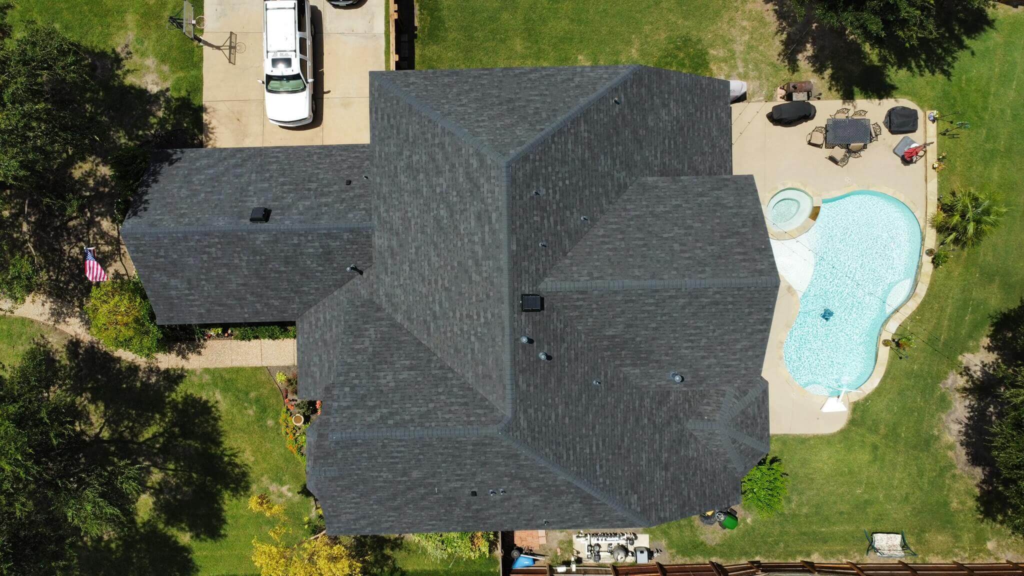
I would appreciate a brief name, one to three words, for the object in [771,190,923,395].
swimming pool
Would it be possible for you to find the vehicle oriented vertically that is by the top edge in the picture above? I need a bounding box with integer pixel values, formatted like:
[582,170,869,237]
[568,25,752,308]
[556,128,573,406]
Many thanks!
[259,0,317,127]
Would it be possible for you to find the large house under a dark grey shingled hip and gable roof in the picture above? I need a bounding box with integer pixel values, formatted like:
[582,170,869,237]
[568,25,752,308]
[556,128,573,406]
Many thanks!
[124,64,780,534]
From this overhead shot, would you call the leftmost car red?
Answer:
No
